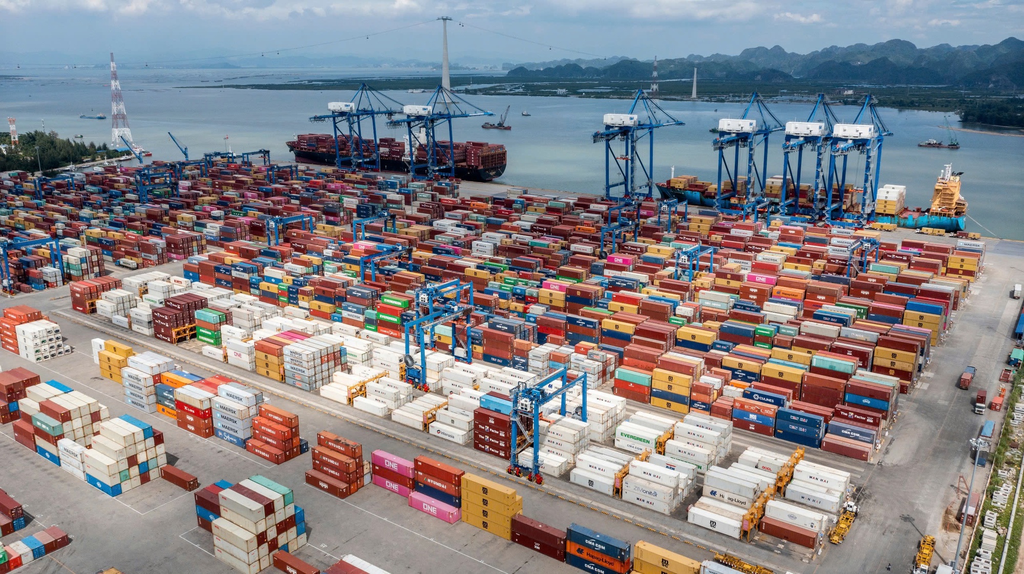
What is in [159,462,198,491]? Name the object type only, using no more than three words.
shipping container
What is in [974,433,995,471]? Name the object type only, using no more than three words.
truck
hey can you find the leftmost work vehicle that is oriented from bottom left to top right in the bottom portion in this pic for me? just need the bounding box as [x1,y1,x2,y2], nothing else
[834,490,871,535]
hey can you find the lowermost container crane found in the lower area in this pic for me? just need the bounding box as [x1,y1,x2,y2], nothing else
[504,361,603,485]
